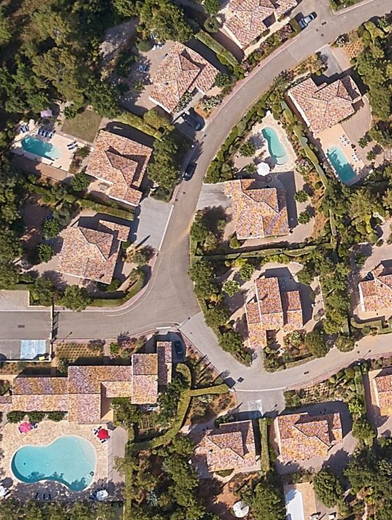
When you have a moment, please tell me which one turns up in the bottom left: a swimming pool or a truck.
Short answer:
swimming pool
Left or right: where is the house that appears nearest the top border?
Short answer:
right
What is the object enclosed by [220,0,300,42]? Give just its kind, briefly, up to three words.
house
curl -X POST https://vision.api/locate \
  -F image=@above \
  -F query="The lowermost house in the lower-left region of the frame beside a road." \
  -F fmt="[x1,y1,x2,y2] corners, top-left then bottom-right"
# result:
[0,340,173,422]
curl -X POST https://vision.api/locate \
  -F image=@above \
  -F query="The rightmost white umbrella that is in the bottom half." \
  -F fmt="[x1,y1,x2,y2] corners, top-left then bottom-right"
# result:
[232,500,249,517]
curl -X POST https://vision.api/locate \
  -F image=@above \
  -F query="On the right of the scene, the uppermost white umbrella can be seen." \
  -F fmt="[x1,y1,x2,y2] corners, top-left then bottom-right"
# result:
[257,162,270,176]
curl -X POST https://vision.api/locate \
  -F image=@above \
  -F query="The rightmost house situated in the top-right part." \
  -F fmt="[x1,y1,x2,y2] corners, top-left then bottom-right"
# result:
[288,77,362,134]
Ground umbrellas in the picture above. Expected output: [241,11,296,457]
[257,162,270,176]
[0,483,7,497]
[18,419,32,433]
[95,488,108,501]
[232,500,249,517]
[96,427,109,439]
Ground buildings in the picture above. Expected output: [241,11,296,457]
[85,130,153,207]
[357,268,392,311]
[246,280,303,347]
[220,0,300,42]
[374,371,392,414]
[58,223,124,285]
[288,77,362,134]
[0,340,173,422]
[277,412,340,463]
[203,419,257,471]
[149,42,219,103]
[227,181,290,239]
